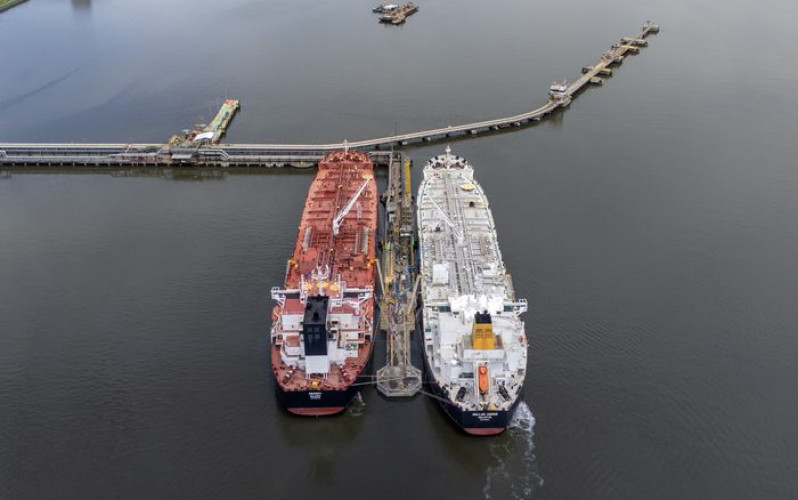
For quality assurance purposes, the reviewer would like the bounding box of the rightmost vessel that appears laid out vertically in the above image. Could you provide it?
[418,146,531,437]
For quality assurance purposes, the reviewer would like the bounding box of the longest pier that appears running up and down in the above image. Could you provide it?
[376,150,420,393]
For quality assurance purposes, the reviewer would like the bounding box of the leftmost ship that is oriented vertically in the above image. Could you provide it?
[267,141,377,417]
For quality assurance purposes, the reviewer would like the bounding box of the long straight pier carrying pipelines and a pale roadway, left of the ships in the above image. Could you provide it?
[0,135,389,168]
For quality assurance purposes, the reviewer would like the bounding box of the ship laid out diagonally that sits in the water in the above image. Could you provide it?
[392,0,420,25]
